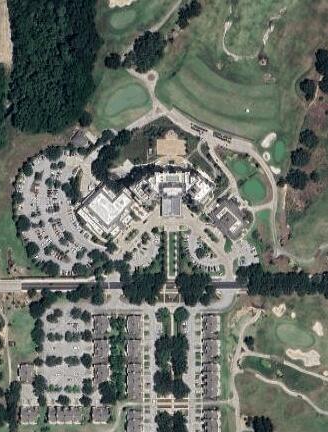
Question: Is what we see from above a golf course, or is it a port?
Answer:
golf course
